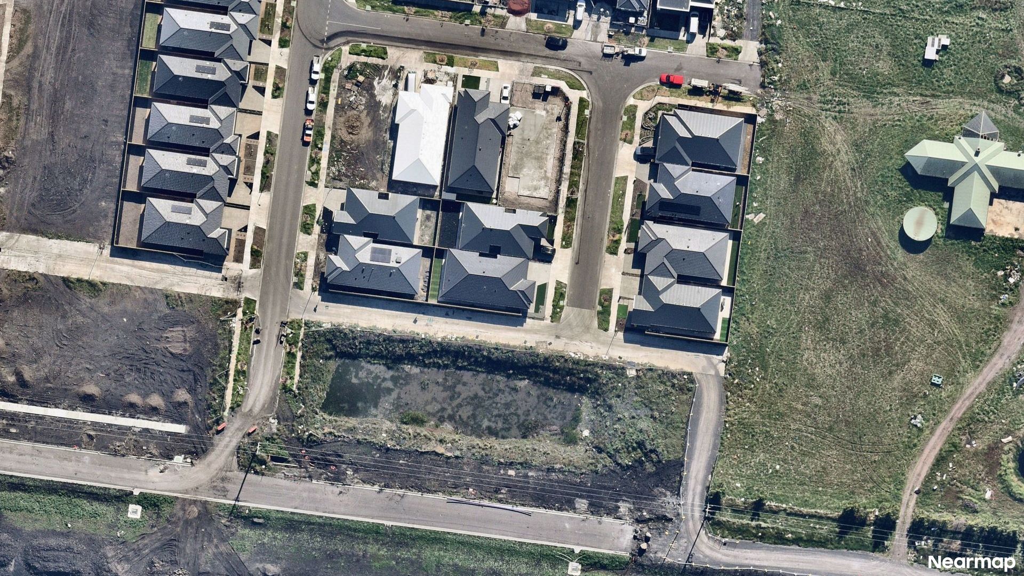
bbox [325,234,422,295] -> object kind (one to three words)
house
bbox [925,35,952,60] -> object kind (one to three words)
shed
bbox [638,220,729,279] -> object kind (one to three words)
house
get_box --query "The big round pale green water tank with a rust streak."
[904,207,938,240]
